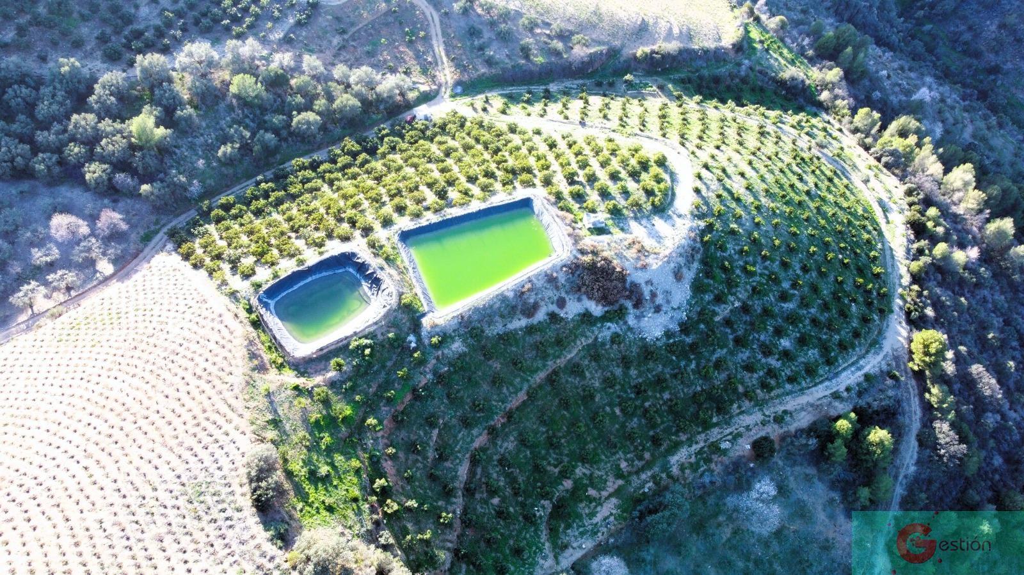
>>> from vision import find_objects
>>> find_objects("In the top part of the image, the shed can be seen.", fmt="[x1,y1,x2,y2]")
[584,214,607,231]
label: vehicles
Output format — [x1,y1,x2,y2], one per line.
[414,109,433,120]
[402,113,415,123]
